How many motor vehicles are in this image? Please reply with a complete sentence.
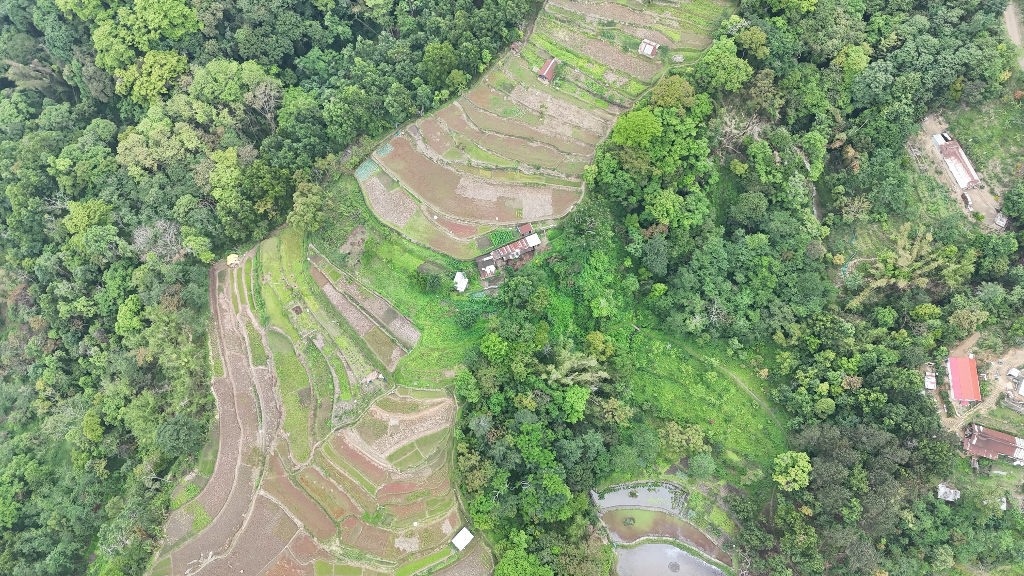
Not a single motor vehicle can be seen.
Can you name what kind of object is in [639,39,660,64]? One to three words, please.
shed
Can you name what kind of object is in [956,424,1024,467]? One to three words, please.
shed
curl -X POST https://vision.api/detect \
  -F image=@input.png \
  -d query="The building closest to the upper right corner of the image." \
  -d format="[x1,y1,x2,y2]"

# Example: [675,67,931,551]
[929,132,980,191]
